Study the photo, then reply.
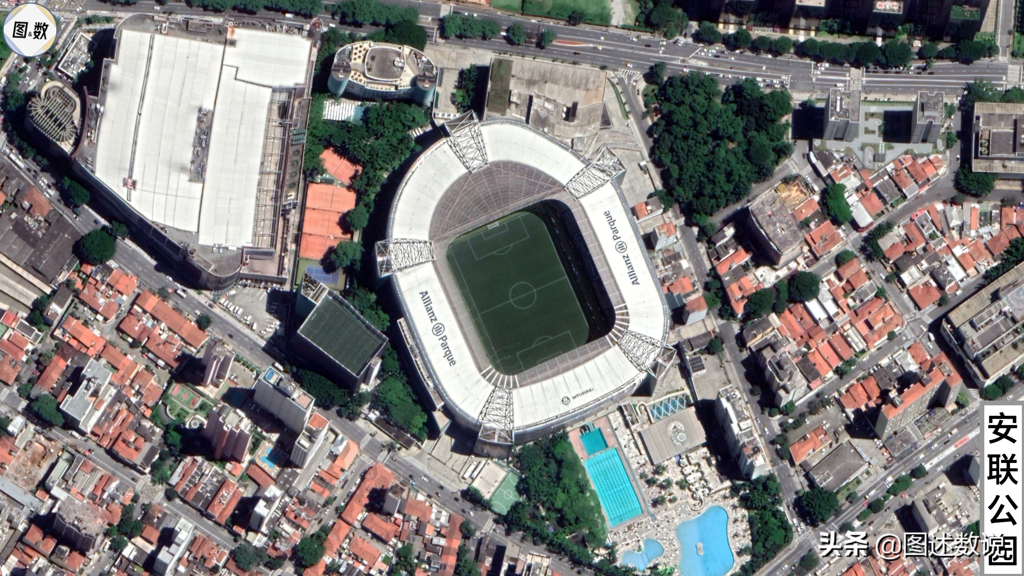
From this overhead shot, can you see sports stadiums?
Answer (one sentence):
Yes, the image includes a sports stadium.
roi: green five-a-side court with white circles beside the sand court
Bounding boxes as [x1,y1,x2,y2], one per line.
[491,472,516,516]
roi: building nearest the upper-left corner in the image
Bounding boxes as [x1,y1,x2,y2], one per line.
[58,33,94,81]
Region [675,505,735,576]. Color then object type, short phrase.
blue swimming pool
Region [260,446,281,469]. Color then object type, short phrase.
blue swimming pool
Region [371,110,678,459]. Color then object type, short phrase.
white stadium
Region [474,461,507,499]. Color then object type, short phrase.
white sports court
